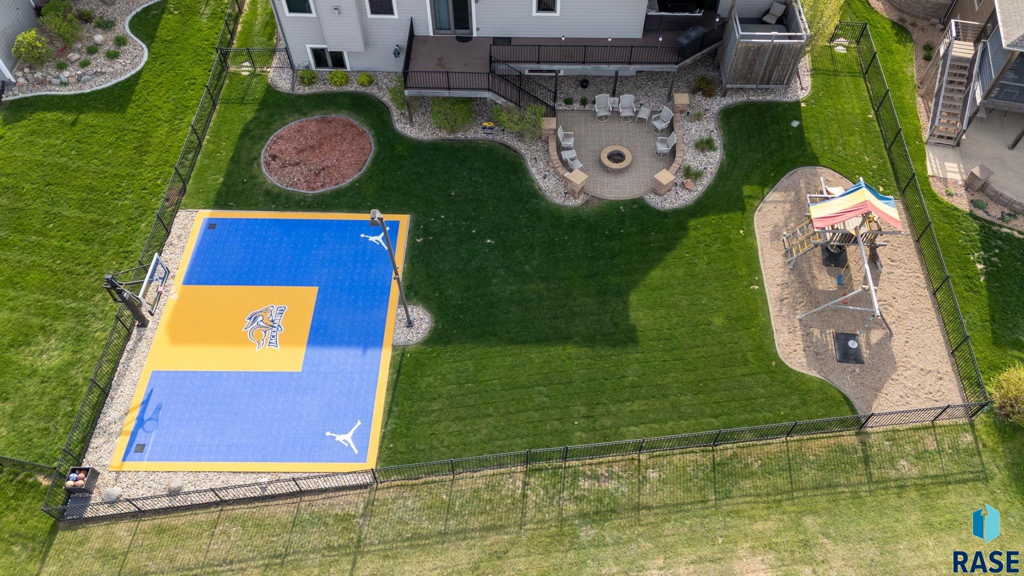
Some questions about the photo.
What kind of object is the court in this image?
basketball court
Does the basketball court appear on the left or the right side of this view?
left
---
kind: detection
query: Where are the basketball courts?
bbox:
[107,211,410,473]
